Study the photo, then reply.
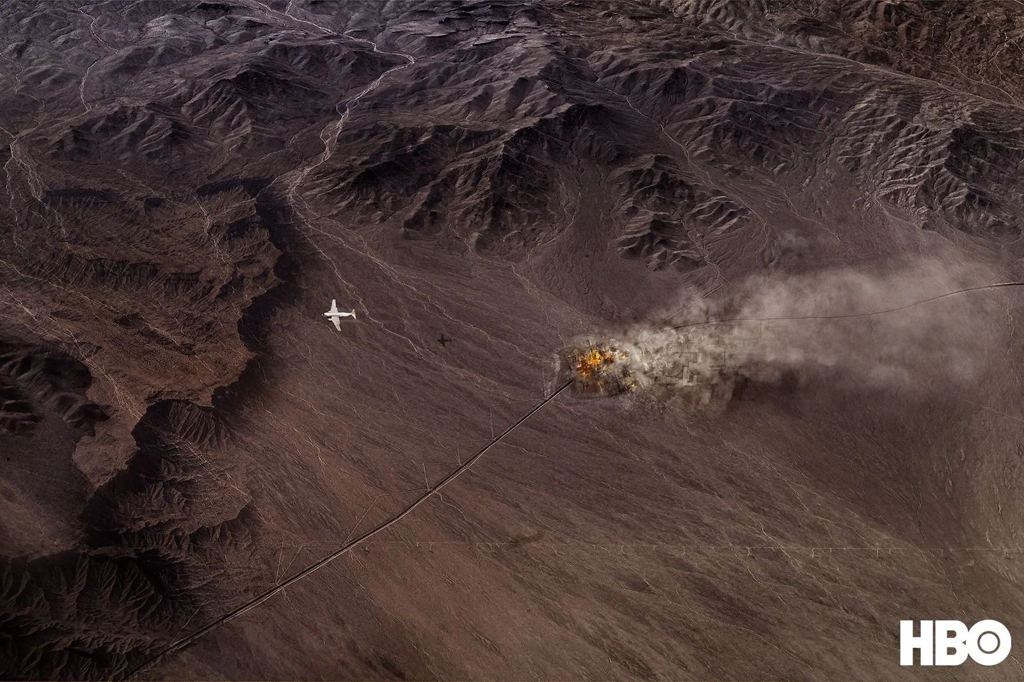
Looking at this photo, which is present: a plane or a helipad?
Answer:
plane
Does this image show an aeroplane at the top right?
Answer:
No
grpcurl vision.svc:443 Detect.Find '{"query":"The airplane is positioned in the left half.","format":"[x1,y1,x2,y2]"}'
[322,298,356,331]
